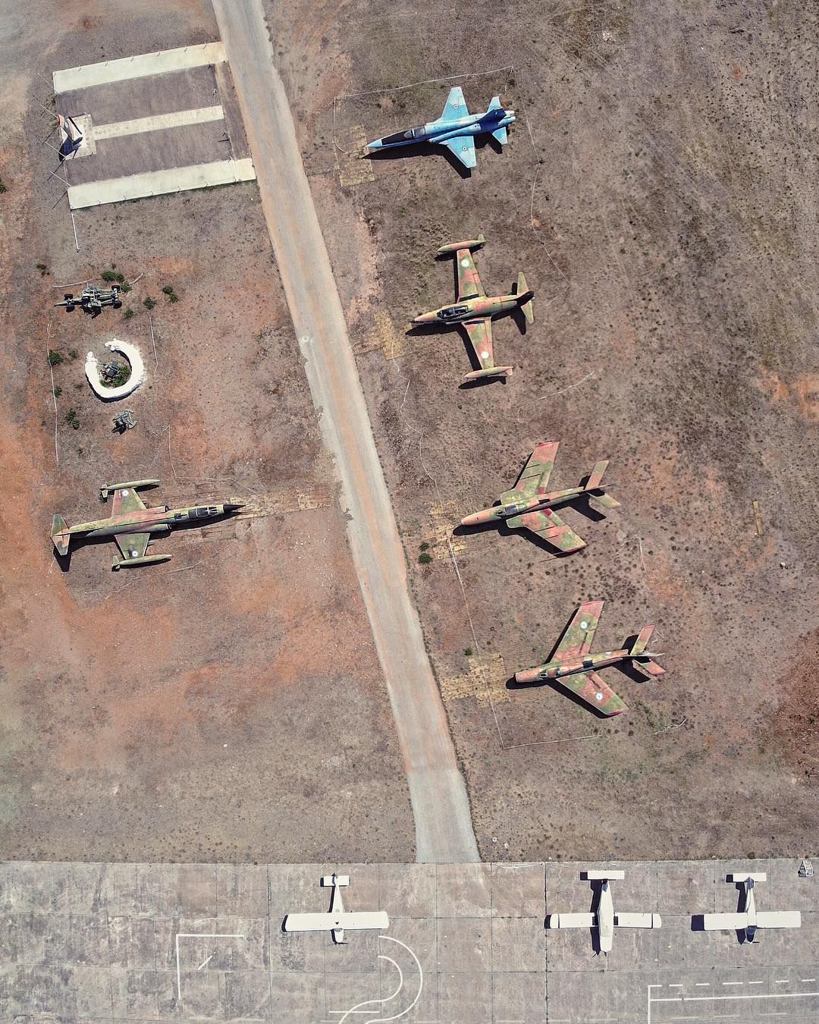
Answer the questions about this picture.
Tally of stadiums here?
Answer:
0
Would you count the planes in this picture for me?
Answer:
8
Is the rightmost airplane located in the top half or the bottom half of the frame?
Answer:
bottom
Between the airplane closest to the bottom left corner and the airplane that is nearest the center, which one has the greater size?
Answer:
the airplane that is nearest the center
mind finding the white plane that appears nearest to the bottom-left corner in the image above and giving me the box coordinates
[285,876,389,943]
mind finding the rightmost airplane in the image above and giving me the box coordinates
[706,873,804,943]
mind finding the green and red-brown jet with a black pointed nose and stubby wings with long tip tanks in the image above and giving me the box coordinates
[51,479,245,570]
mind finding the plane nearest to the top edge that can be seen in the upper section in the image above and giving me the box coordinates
[368,85,516,169]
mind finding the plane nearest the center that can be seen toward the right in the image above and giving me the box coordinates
[461,438,620,558]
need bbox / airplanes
[461,438,620,558]
[514,597,665,714]
[51,479,245,570]
[549,871,662,953]
[413,232,537,377]
[368,85,516,169]
[706,873,804,943]
[285,876,389,943]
